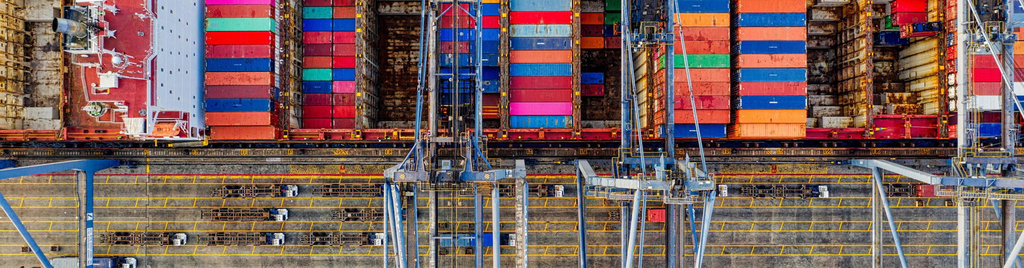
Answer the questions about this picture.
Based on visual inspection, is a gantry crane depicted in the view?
Yes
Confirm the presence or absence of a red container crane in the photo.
No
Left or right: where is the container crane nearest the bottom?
left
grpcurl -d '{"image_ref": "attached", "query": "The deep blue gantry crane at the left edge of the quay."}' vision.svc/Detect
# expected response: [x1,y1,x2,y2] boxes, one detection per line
[0,159,149,268]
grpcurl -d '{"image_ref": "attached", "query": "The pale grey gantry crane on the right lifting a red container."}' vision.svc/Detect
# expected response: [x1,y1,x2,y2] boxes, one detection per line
[818,0,1024,268]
